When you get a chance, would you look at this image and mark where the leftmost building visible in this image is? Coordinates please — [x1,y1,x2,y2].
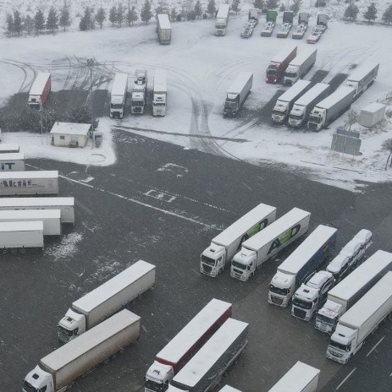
[51,117,91,150]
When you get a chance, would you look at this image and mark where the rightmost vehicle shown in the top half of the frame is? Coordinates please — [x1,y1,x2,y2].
[344,62,379,104]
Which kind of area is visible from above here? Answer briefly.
parking lot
